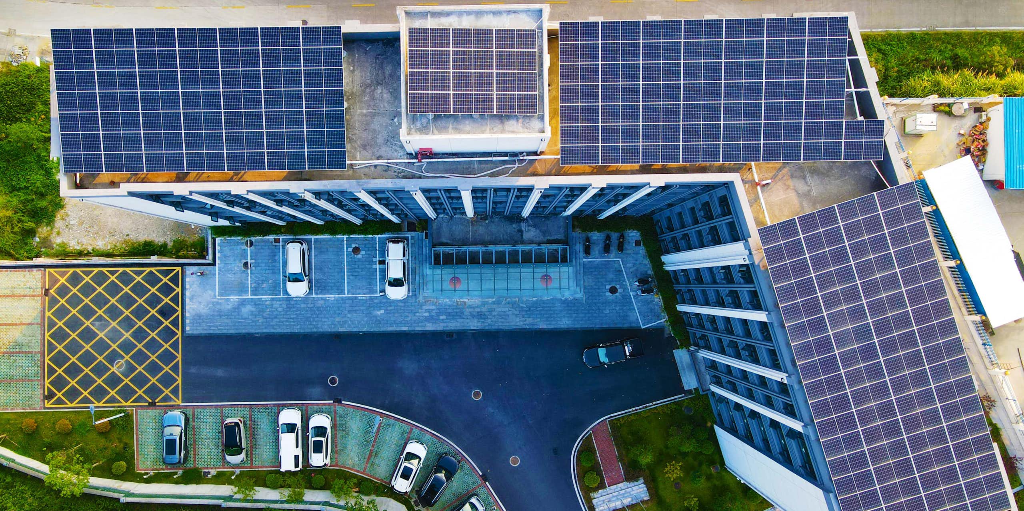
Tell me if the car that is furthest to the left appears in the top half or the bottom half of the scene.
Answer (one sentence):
The car that is furthest to the left sits in the bottom half of the picture.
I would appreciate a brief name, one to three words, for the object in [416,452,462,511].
car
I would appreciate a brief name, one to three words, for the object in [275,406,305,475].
van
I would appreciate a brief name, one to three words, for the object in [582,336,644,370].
truck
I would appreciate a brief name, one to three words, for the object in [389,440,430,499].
car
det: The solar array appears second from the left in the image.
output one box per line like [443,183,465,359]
[407,27,538,115]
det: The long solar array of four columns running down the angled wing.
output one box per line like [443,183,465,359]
[757,182,1012,511]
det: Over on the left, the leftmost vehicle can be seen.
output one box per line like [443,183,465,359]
[161,408,193,468]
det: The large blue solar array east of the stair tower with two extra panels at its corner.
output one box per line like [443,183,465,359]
[557,17,883,165]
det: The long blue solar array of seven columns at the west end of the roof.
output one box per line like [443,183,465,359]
[51,27,348,173]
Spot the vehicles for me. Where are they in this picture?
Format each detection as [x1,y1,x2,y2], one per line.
[605,234,615,254]
[416,452,462,511]
[275,406,305,475]
[618,232,626,252]
[383,238,410,301]
[305,411,334,470]
[161,408,193,468]
[634,276,654,286]
[582,336,644,370]
[584,236,594,256]
[389,440,430,499]
[221,415,249,465]
[284,239,312,297]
